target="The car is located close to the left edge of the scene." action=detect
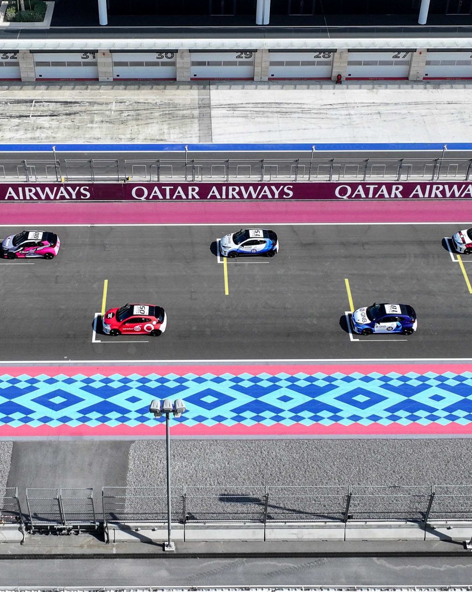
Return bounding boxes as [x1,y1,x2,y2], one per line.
[0,230,59,260]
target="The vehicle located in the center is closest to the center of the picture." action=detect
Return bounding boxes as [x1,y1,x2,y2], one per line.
[221,229,279,258]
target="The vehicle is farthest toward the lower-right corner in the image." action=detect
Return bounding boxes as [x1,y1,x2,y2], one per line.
[351,302,419,336]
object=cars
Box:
[221,229,279,258]
[351,302,419,336]
[453,229,472,255]
[101,303,166,337]
[0,230,59,260]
